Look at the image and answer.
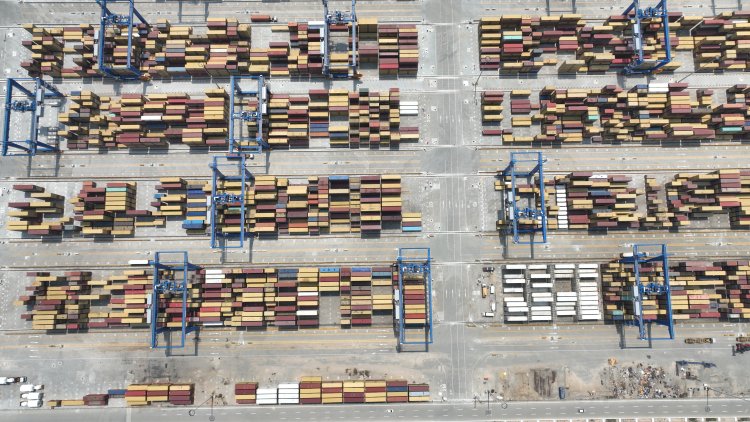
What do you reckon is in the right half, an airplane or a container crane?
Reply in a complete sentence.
It is a container crane that can be seen in the right half.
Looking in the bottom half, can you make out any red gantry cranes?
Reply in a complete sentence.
No, the scene shows no red gantry crane in the bottom half.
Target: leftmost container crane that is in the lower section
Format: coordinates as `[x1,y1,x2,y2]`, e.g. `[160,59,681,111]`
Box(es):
[147,252,204,347]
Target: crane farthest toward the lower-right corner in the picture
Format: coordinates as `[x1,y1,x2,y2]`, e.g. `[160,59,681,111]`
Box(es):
[613,245,675,340]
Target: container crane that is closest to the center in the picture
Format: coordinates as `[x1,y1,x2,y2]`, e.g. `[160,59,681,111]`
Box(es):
[392,248,434,344]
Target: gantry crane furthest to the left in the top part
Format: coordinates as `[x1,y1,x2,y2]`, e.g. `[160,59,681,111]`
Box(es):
[0,78,65,156]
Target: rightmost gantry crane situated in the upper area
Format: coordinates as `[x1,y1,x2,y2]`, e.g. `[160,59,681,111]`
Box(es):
[617,0,671,75]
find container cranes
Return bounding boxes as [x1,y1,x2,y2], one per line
[392,248,434,344]
[613,245,675,340]
[147,252,204,347]
[0,78,65,156]
[617,0,671,75]
[207,156,256,248]
[95,0,152,80]
[229,76,273,153]
[320,0,361,78]
[497,152,548,243]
